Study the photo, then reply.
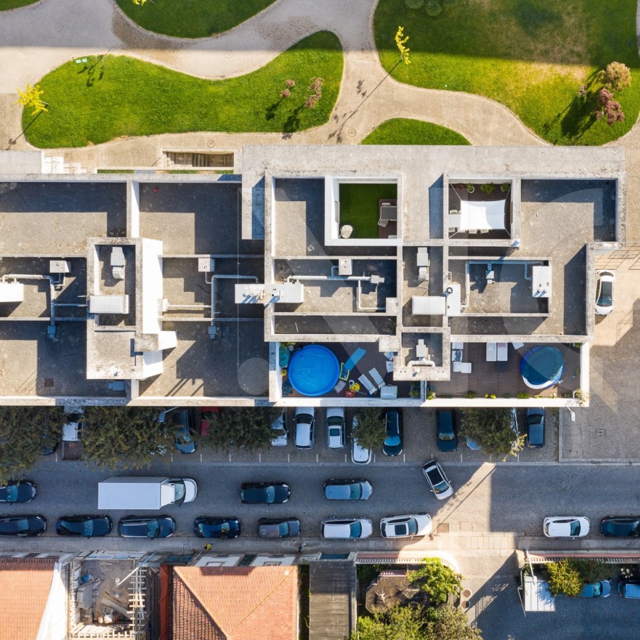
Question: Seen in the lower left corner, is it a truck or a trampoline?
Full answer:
You can see a truck in the lower left corner.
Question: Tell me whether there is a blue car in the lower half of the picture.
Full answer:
Yes, I can see a blue car in the lower half of the picture.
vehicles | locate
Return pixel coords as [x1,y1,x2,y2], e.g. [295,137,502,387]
[349,414,373,463]
[117,515,178,541]
[543,515,590,541]
[268,406,289,446]
[595,269,618,316]
[99,477,208,510]
[59,406,85,441]
[0,513,49,539]
[599,515,640,541]
[524,406,549,448]
[258,516,301,541]
[240,481,291,507]
[34,407,62,455]
[56,514,114,540]
[434,406,460,453]
[321,515,373,541]
[323,477,373,503]
[570,578,615,604]
[322,406,348,450]
[617,578,640,603]
[175,406,198,455]
[380,513,432,540]
[422,459,454,502]
[193,515,242,541]
[381,406,406,456]
[0,479,37,505]
[292,406,317,449]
